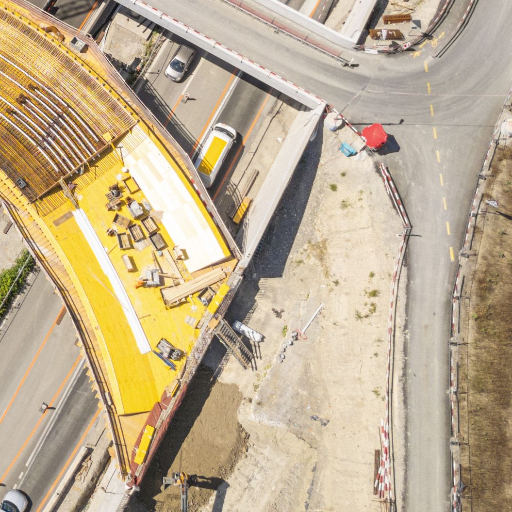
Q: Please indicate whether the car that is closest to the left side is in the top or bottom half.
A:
bottom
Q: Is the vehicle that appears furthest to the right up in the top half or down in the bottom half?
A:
top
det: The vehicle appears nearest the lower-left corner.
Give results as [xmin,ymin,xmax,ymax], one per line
[0,486,31,512]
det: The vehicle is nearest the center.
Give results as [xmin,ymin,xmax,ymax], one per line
[196,122,243,192]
